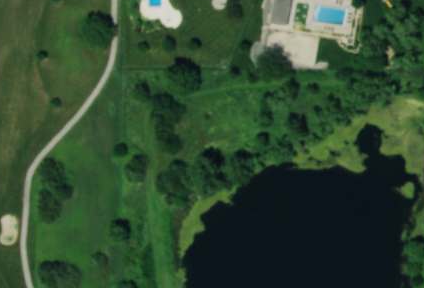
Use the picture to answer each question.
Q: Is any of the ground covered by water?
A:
Yes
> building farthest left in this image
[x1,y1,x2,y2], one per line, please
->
[272,0,293,26]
